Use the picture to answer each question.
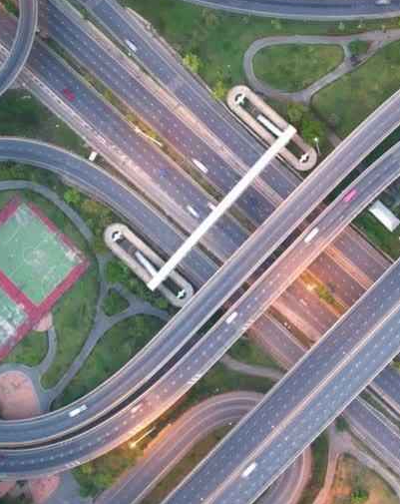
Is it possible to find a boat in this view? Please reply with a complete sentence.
No, there appears to be no boat in this shot.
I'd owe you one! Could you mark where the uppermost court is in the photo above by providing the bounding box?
[0,196,90,315]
